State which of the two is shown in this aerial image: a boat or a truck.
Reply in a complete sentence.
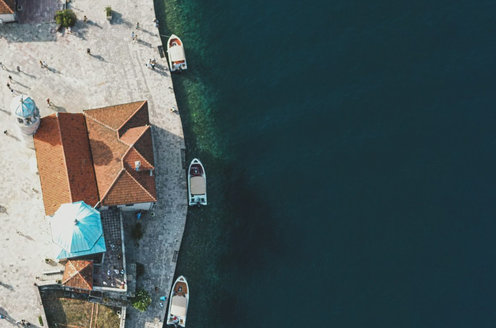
Of the two, only a boat appears.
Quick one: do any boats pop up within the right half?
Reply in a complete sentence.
No, the scene shows no boat within the right half.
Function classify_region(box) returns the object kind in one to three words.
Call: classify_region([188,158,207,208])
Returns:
boat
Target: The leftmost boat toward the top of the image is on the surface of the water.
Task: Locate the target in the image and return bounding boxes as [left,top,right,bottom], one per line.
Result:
[167,33,187,74]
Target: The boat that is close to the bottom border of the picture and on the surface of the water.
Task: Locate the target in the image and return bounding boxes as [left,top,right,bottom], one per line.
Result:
[168,276,190,328]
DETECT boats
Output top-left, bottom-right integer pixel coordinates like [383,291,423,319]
[188,158,207,208]
[167,33,187,74]
[168,276,190,328]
